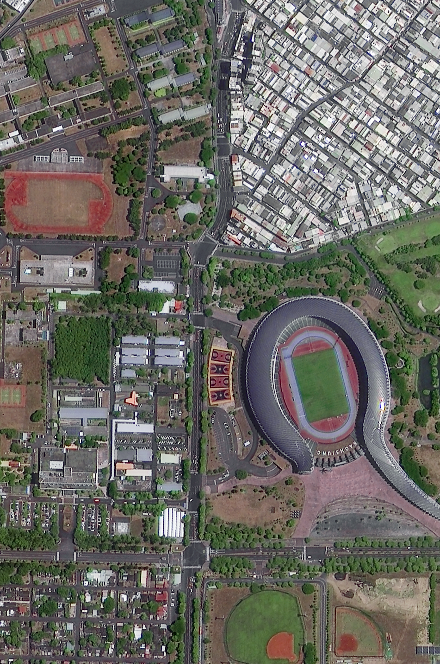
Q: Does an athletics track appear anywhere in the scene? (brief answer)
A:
Yes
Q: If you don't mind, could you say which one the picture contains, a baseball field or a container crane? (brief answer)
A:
baseball field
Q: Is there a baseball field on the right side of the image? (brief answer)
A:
Yes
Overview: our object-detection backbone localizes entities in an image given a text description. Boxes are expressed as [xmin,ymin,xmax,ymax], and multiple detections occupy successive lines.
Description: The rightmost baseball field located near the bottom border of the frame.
[335,606,385,657]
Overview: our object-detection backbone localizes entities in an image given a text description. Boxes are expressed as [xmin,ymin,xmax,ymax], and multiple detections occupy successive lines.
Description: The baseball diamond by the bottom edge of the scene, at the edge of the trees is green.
[225,590,305,664]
